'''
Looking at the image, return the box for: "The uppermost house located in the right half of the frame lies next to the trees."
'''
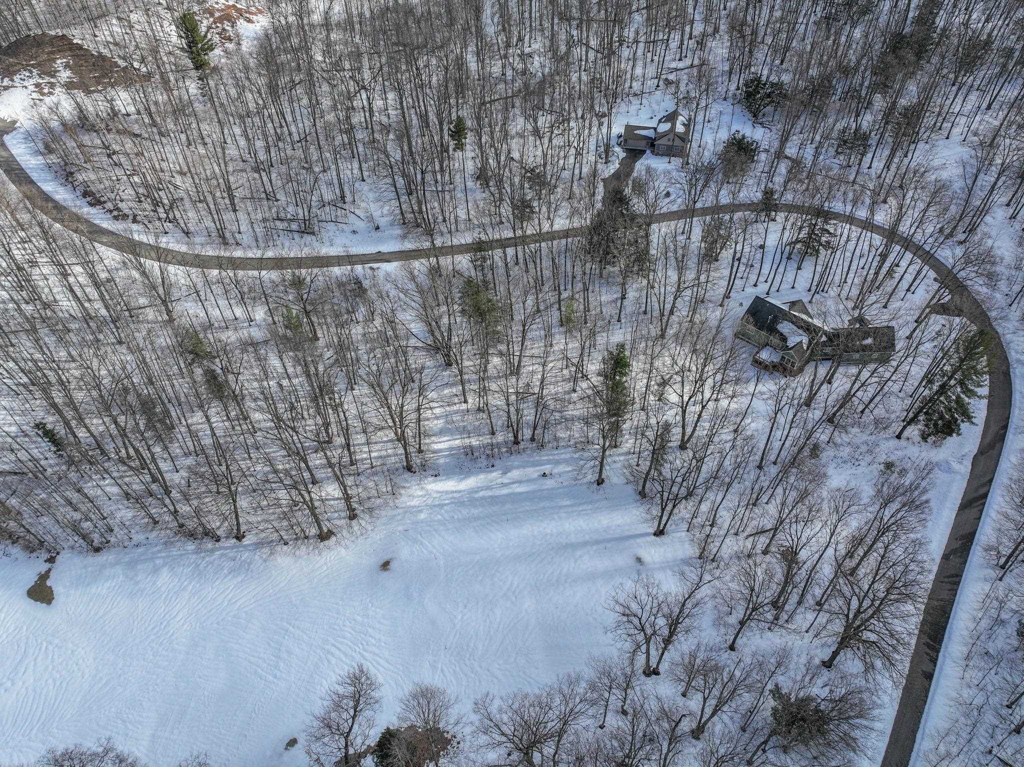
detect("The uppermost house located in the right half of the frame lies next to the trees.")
[624,110,688,155]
